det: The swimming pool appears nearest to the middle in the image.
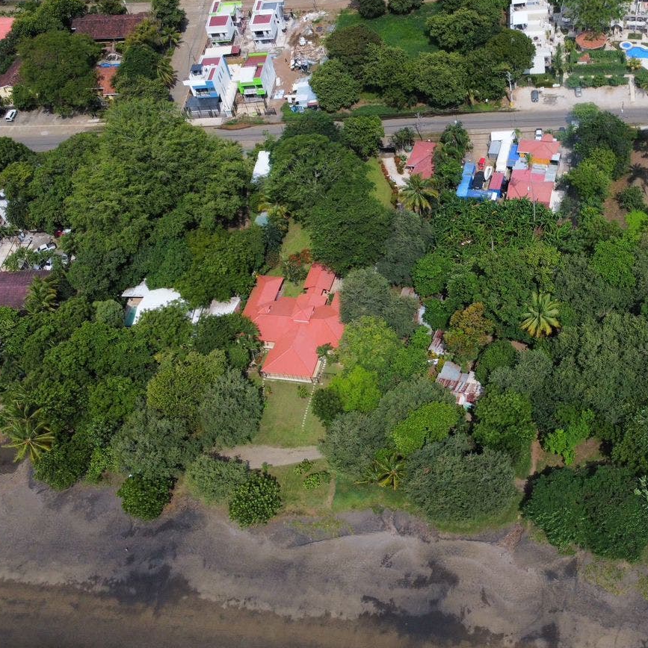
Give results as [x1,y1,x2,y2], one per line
[125,302,139,322]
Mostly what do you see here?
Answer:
trees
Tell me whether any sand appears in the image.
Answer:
Yes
